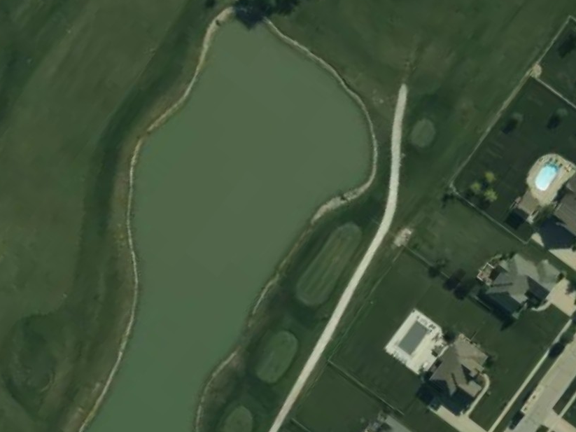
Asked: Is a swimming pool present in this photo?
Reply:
Yes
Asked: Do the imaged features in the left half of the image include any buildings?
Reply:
No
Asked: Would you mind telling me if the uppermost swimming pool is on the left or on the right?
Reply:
right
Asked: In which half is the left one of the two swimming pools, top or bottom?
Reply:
bottom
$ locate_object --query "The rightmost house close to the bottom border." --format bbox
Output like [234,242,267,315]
[425,335,490,415]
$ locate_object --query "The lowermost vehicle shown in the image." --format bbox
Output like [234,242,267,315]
[510,412,525,430]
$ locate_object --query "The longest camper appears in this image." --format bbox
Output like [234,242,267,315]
[520,385,545,416]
